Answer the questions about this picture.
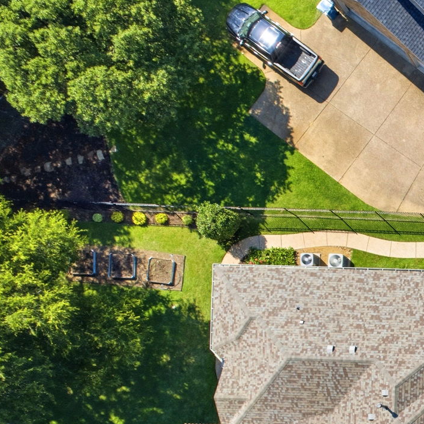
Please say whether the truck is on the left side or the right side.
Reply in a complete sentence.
You can find the truck on the right side of the picture.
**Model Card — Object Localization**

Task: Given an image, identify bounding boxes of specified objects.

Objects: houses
[338,0,424,73]
[208,262,424,424]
